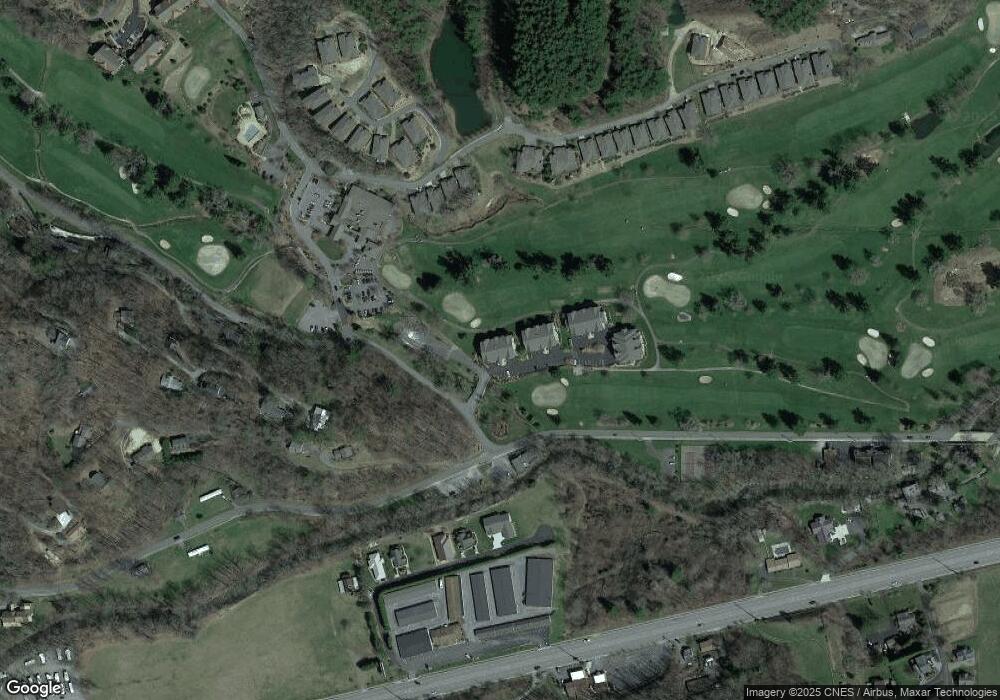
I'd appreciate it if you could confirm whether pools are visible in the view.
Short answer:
Yes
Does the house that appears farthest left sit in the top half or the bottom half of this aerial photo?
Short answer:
bottom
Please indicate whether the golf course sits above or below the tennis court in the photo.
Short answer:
above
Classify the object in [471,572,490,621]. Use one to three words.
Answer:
building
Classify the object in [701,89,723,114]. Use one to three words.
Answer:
house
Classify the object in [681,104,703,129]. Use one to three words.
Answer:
house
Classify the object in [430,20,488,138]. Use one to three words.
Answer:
pond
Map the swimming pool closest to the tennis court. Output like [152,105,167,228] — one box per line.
[771,542,791,557]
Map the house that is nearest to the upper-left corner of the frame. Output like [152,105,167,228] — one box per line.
[95,44,125,73]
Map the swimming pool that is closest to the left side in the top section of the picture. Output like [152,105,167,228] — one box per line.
[237,102,268,147]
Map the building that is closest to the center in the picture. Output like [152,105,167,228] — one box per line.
[482,334,519,363]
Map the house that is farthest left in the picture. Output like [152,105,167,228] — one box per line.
[1,603,33,626]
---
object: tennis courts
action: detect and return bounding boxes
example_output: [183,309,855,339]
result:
[681,445,718,481]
